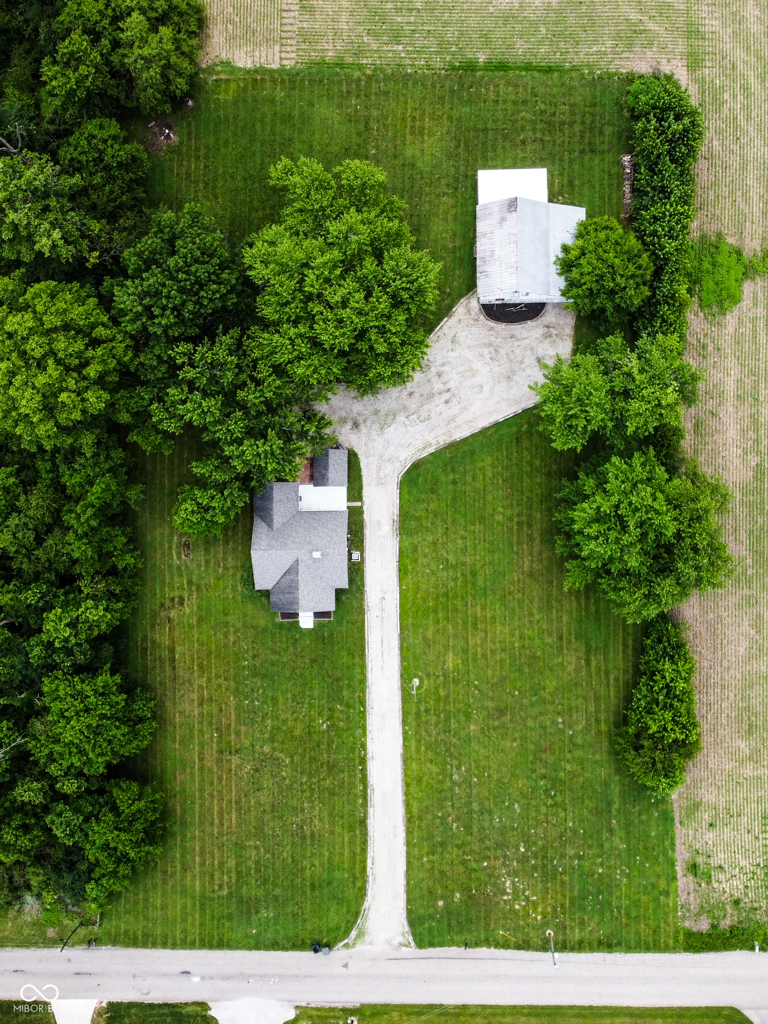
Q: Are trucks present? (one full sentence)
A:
No, no truck is visible in the view.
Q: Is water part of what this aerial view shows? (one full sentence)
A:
No, there's no water in this view.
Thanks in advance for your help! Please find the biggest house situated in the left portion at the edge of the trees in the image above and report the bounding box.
[251,482,350,613]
